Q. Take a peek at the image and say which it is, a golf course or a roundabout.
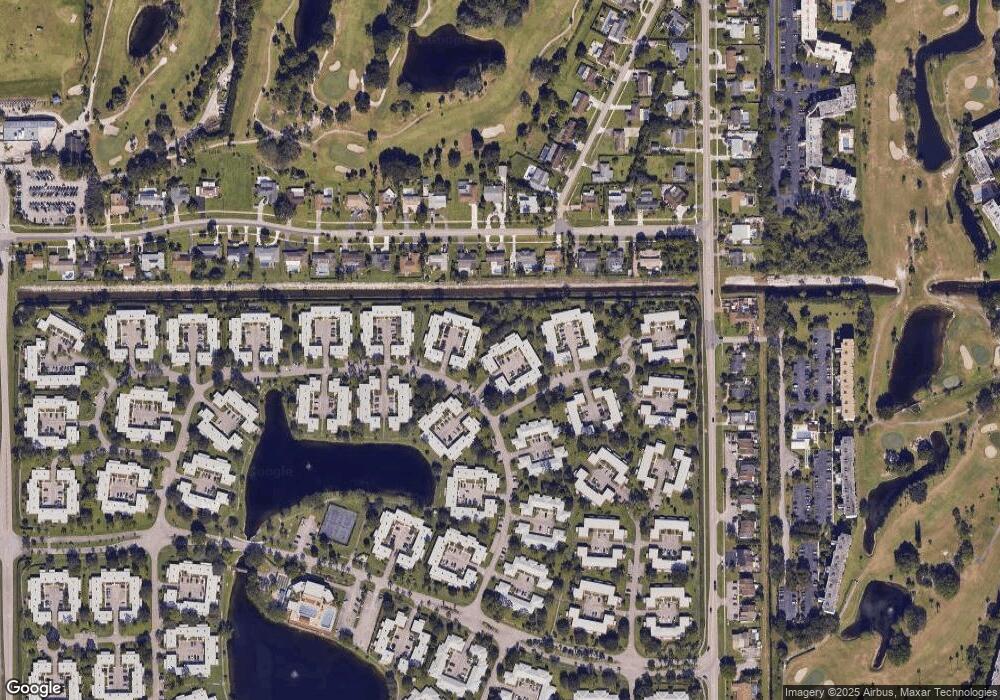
golf course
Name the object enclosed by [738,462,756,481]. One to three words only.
house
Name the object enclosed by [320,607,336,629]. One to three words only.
swimming pool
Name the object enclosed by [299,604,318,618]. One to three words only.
swimming pool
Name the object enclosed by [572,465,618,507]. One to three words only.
building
